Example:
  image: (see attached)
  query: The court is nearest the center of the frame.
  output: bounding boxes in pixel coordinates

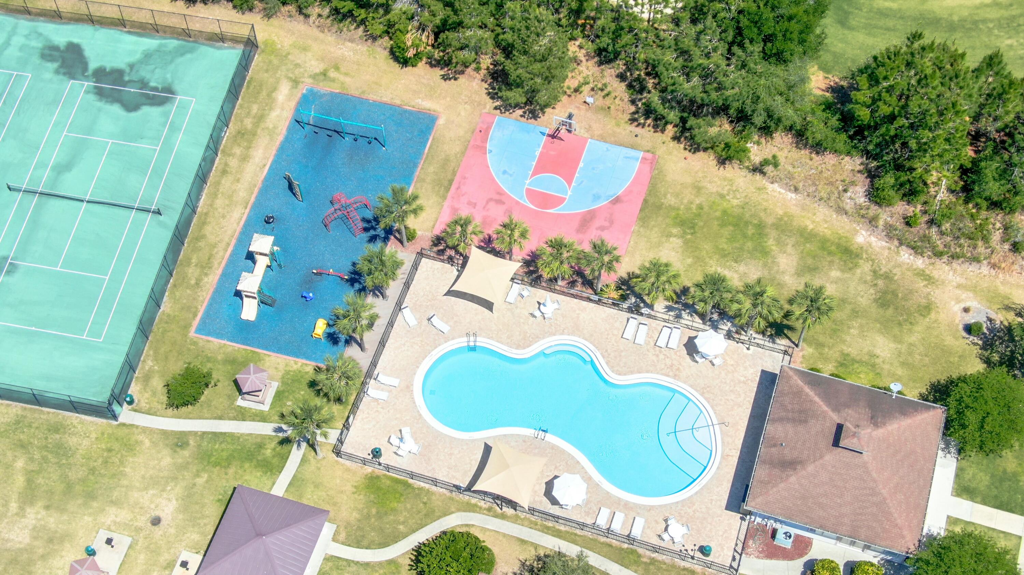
[433,112,658,281]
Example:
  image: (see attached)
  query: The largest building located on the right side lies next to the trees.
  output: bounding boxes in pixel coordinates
[742,363,948,563]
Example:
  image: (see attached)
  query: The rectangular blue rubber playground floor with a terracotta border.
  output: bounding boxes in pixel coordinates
[190,82,441,373]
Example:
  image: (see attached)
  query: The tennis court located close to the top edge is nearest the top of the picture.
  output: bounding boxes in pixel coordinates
[0,8,77,189]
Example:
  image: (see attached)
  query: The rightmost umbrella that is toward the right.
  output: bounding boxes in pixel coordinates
[692,324,730,357]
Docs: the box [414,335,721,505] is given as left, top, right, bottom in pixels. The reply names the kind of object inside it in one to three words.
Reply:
swimming pool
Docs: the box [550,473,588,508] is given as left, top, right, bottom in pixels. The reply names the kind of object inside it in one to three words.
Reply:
umbrella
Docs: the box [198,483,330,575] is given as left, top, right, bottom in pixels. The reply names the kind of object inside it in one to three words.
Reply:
building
